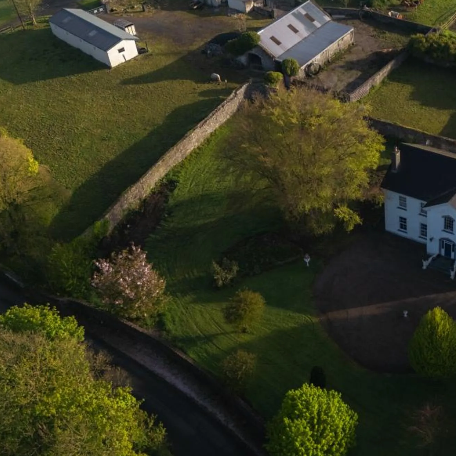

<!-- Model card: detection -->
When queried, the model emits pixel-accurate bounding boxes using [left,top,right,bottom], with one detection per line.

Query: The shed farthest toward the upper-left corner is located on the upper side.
[43,13,142,68]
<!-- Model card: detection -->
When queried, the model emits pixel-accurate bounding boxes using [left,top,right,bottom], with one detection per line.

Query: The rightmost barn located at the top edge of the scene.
[240,0,356,80]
